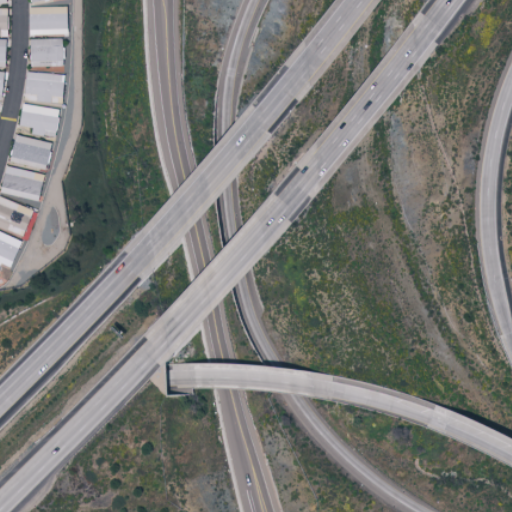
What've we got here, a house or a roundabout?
house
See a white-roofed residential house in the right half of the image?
No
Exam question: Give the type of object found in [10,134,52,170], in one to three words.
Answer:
house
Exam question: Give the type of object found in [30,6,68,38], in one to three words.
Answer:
house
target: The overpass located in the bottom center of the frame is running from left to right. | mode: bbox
[170,364,314,398]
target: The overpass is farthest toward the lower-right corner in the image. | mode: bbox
[437,406,512,468]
